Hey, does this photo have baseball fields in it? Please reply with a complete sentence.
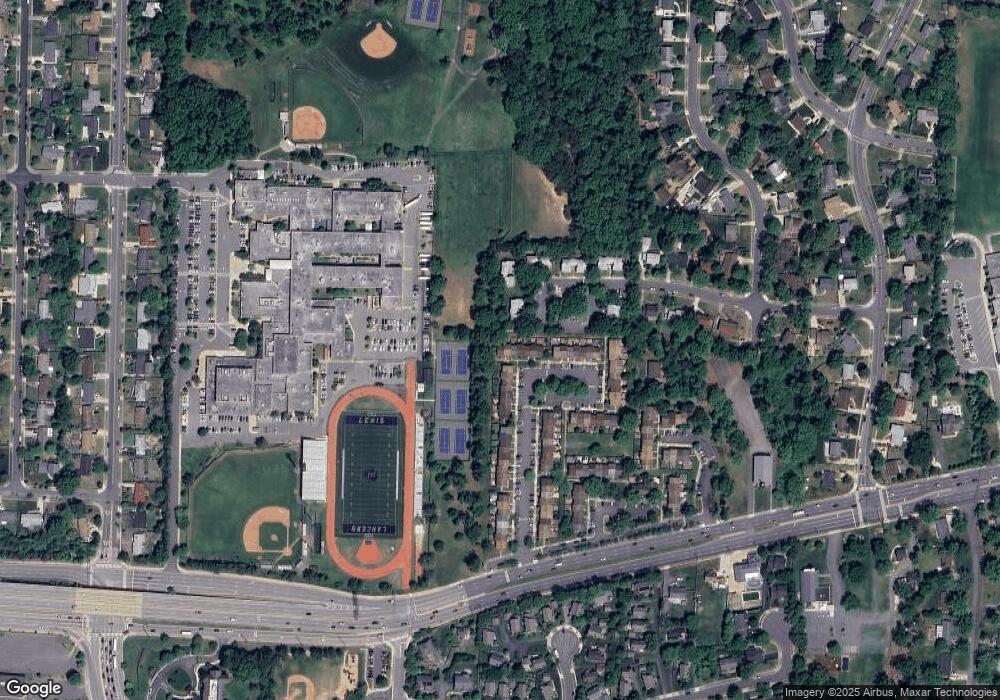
Yes, there's a baseball field here.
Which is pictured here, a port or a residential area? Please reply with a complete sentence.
The area seen from above is a residential area.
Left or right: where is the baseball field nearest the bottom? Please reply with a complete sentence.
The baseball field nearest the bottom is on the left side of the image.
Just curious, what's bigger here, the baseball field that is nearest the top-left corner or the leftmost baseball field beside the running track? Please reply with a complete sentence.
The leftmost baseball field beside the running track takes up more space than the baseball field that is nearest the top-left corner.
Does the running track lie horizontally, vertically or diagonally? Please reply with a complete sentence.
From this overhead view, the running track appears to run vertically.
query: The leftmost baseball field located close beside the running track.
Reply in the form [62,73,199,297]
[243,506,300,562]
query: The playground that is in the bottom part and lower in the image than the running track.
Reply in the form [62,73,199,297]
[338,653,359,700]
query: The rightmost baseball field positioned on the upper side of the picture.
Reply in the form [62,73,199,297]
[360,22,396,59]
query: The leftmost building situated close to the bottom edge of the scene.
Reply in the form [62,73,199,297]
[195,668,228,700]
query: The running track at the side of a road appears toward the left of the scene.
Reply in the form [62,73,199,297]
[327,361,425,590]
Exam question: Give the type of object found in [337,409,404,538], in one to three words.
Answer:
sports field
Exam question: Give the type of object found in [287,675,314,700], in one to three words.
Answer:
baseball field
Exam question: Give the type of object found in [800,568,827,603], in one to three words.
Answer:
building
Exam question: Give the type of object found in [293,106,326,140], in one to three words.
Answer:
baseball field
